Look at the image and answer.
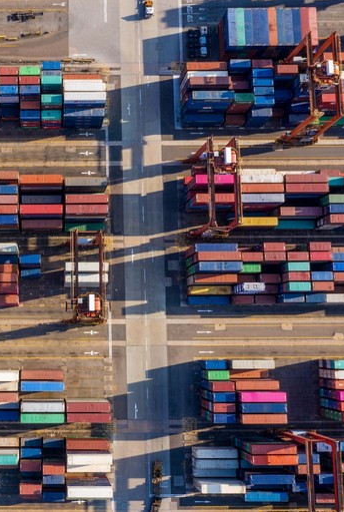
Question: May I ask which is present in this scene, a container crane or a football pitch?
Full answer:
The one in the frame is a container crane.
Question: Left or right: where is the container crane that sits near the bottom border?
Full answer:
The container crane that sits near the bottom border sits on the right side.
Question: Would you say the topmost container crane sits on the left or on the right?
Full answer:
You can find the topmost container crane on the right side of the picture.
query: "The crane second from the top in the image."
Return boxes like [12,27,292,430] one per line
[184,134,243,235]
